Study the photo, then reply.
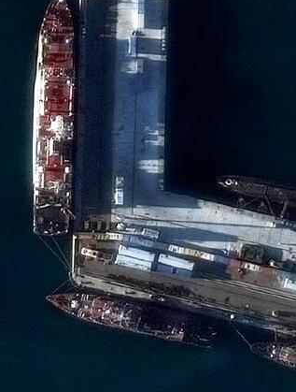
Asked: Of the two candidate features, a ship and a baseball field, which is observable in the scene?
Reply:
ship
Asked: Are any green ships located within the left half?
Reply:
No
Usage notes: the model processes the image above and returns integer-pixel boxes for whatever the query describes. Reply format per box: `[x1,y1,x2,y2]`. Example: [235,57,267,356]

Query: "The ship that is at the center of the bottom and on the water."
[49,295,215,352]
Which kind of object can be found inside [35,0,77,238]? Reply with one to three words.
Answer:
ship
